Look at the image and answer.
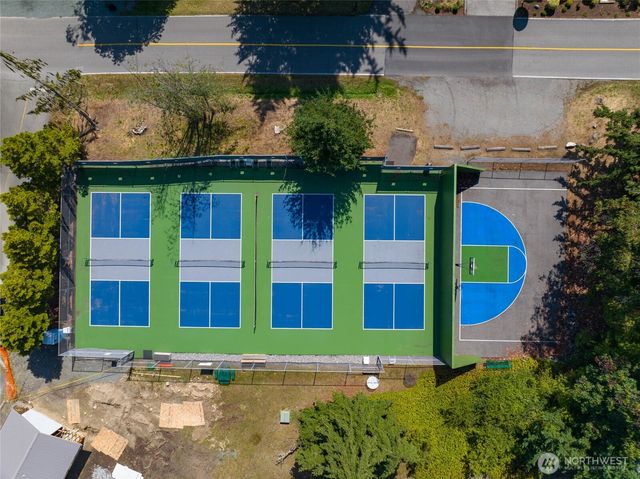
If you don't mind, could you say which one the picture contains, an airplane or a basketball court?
basketball court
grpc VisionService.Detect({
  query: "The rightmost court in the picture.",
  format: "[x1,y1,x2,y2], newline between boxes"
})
[456,171,569,358]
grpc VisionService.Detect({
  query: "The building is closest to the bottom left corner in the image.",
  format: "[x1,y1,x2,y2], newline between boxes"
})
[0,408,82,479]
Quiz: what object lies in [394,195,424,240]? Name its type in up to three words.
sports court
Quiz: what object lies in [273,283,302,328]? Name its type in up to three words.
sports court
